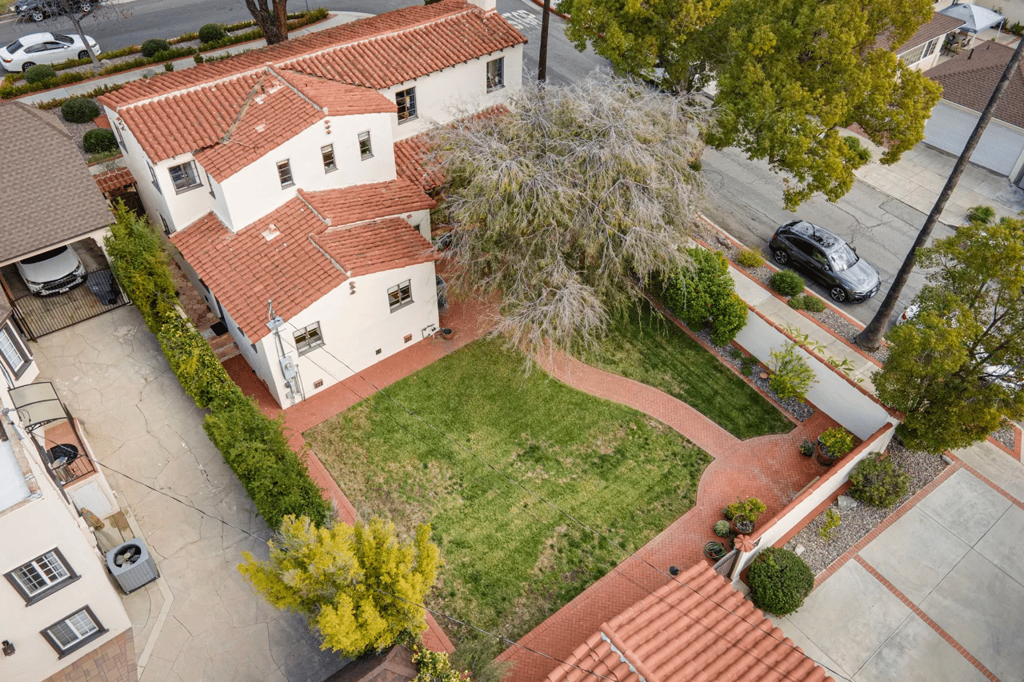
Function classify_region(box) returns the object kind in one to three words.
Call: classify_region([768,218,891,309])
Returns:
car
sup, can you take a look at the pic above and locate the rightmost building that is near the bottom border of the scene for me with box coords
[540,560,836,682]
